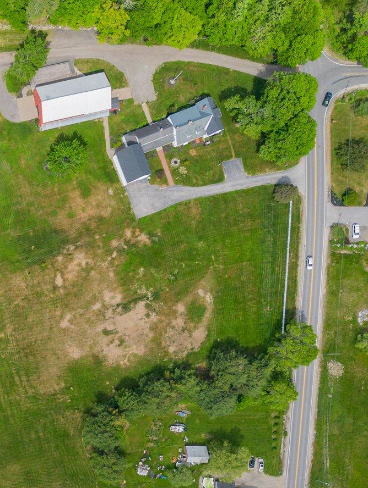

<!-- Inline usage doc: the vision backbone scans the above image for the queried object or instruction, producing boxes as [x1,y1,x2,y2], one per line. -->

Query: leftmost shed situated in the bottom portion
[183,443,209,463]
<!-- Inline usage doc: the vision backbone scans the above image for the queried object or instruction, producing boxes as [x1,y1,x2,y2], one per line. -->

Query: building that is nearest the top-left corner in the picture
[34,73,121,133]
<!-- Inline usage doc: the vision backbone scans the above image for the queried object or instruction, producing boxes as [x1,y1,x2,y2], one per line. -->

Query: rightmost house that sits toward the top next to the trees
[112,97,227,186]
